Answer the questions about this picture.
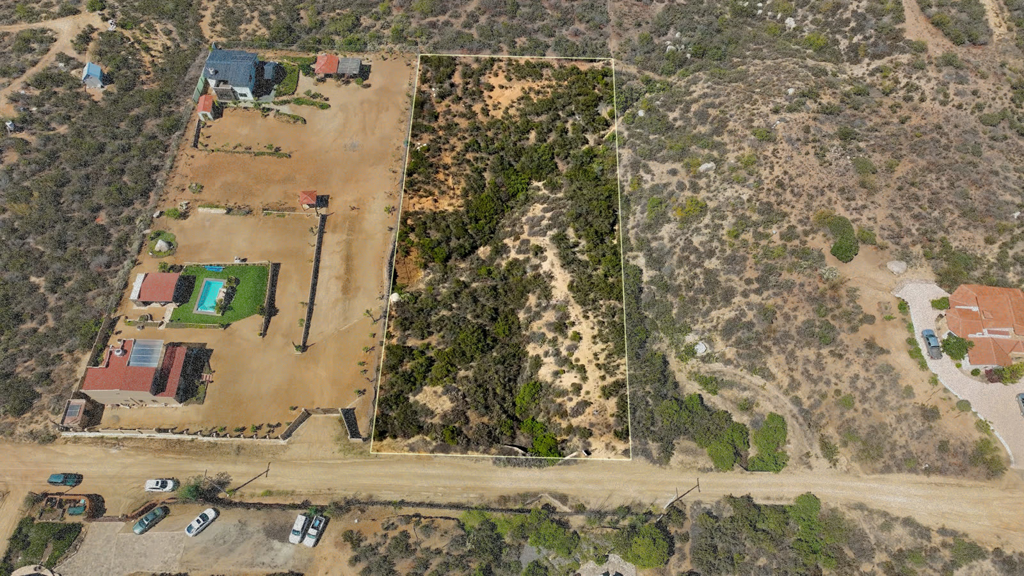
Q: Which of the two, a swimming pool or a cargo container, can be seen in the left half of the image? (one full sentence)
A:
The one visible in the left half of the image is a swimming pool.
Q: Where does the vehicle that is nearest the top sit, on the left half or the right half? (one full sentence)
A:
The vehicle that is nearest the top is on the right side of the image.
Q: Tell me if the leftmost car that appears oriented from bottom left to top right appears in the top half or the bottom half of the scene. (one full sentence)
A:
It is in the bottom half that the leftmost car that appears oriented from bottom left to top right appears.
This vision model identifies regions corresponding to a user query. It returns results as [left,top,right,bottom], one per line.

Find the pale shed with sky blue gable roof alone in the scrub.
[83,62,106,88]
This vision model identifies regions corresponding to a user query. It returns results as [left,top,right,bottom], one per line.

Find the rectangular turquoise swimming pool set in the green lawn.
[193,278,226,316]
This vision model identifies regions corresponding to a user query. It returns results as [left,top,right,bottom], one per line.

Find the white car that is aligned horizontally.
[141,477,175,492]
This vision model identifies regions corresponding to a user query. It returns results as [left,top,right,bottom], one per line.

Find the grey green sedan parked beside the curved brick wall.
[131,506,164,534]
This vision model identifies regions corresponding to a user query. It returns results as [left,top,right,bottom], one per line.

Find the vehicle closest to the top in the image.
[925,328,945,358]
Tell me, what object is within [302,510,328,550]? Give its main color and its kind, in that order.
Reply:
white truck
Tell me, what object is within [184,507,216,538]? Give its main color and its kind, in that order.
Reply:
white car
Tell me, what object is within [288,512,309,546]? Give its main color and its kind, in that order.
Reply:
white car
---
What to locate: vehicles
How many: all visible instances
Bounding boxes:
[288,512,309,546]
[141,477,175,492]
[45,470,80,486]
[302,510,328,550]
[131,506,164,534]
[925,328,945,358]
[184,507,216,538]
